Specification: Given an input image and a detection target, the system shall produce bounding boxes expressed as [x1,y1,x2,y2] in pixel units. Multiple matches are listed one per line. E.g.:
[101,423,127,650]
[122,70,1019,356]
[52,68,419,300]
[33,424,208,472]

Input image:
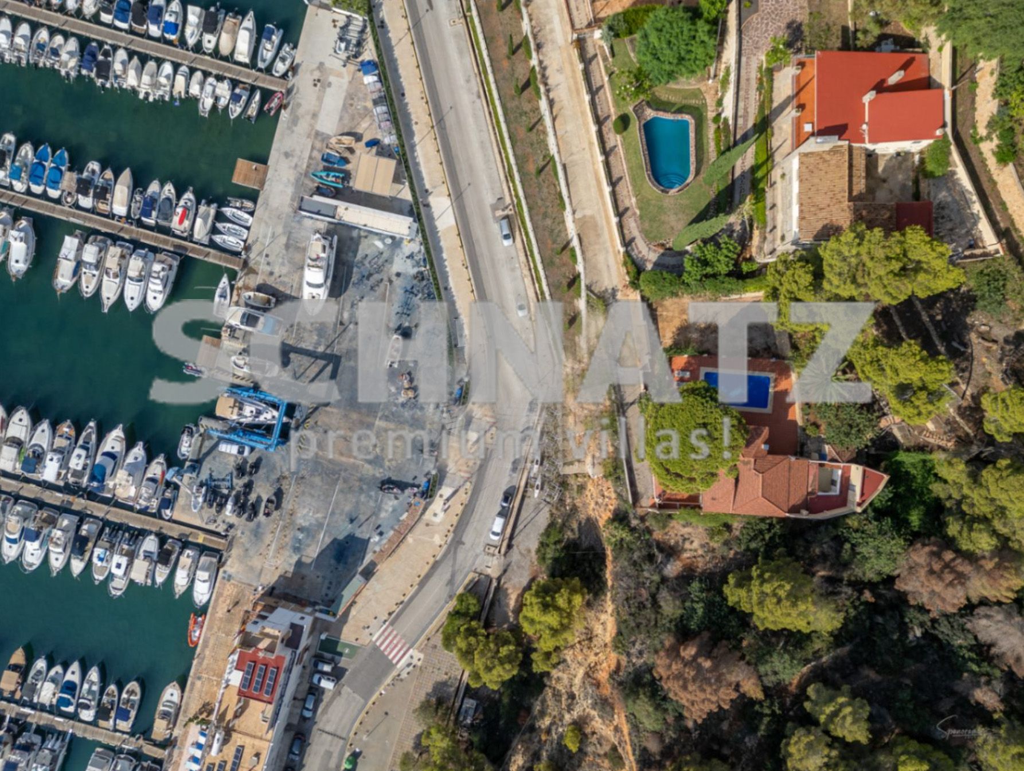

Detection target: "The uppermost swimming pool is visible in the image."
[638,111,695,195]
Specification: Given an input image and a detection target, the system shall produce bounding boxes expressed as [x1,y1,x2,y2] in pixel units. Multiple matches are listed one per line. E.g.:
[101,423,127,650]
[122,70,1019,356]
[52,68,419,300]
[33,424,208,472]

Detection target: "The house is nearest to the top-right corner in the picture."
[781,50,943,247]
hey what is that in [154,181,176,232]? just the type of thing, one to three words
boat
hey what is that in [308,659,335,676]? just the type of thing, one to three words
car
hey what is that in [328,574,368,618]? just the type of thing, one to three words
shed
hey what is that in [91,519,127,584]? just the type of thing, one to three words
boat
